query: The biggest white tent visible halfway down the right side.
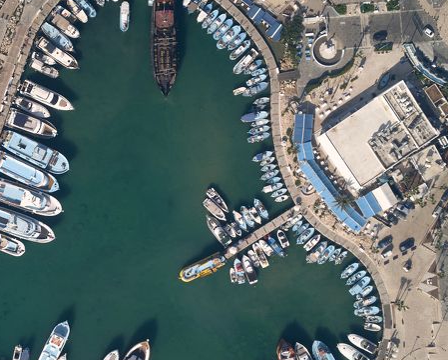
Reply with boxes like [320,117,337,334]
[373,182,398,211]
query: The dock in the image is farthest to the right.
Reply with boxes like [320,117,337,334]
[223,208,302,260]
